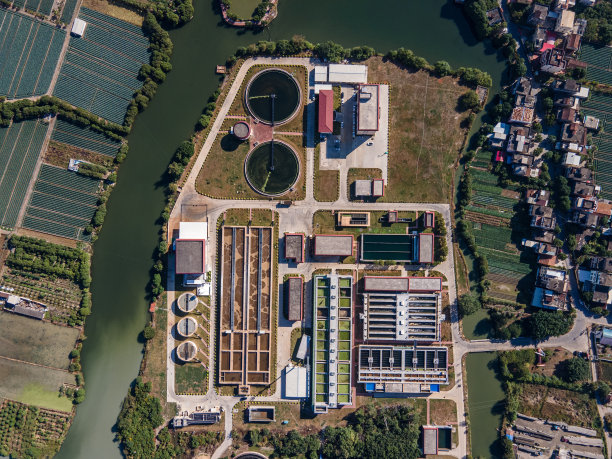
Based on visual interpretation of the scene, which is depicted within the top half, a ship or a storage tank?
storage tank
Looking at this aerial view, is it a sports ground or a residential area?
residential area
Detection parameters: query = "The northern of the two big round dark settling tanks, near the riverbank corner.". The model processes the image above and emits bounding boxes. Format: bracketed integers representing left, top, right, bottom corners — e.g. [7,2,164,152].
[245,68,301,126]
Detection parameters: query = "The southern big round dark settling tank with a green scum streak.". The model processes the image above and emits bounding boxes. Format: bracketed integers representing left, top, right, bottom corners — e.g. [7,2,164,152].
[244,139,301,197]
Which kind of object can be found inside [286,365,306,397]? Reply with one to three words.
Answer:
shed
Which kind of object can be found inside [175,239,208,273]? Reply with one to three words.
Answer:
building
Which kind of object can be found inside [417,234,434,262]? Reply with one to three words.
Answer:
building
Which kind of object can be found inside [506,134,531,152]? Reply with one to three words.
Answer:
house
